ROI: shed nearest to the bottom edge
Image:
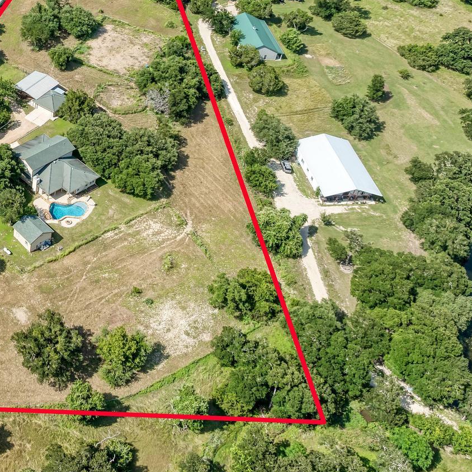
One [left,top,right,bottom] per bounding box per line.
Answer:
[13,215,54,251]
